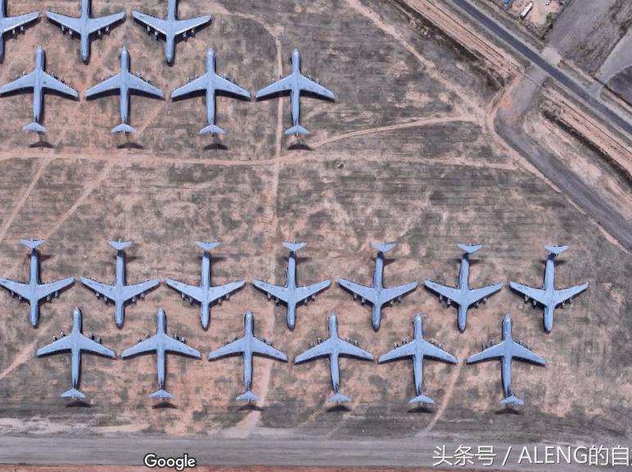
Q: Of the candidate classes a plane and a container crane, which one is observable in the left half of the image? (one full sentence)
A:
It is a plane that can be seen in the left half of the image.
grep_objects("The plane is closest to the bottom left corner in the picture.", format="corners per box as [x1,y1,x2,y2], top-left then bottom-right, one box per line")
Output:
[37,307,116,400]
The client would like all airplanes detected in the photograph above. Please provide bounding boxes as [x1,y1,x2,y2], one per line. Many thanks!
[0,0,40,62]
[295,311,374,404]
[209,310,287,403]
[86,46,164,134]
[252,240,330,331]
[48,0,125,64]
[82,239,159,328]
[378,312,456,405]
[171,48,250,135]
[510,243,588,333]
[37,307,116,400]
[339,241,417,332]
[256,48,335,136]
[166,240,245,329]
[123,308,200,401]
[467,314,545,407]
[0,238,74,328]
[424,242,502,332]
[133,0,212,65]
[0,45,77,134]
